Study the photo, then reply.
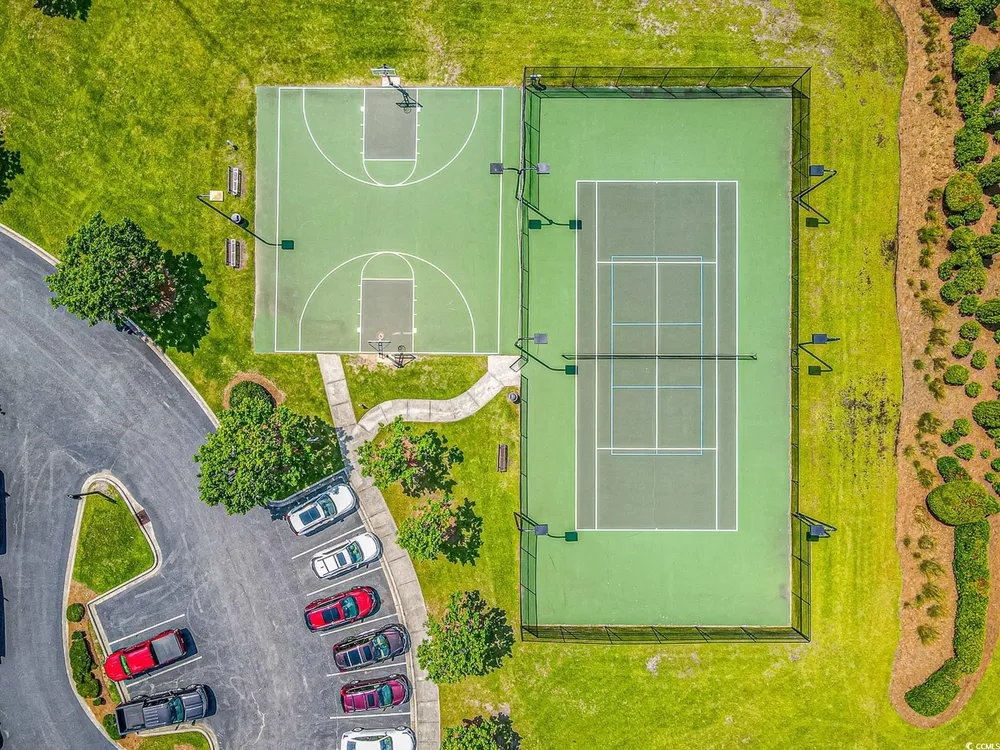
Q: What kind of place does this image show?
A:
sports ground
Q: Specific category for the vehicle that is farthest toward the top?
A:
car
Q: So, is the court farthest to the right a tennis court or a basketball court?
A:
tennis court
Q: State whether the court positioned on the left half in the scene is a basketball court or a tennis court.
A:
basketball court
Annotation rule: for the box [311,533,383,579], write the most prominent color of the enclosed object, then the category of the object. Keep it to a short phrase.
white car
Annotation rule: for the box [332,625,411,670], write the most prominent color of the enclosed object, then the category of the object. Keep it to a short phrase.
gray car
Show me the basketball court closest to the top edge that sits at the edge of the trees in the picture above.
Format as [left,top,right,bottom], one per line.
[253,86,521,354]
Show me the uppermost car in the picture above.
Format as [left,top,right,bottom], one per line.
[285,485,360,536]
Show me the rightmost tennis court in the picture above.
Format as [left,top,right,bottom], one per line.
[520,85,793,628]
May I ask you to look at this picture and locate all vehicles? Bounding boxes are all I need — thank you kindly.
[305,587,380,633]
[113,686,209,735]
[340,676,411,715]
[104,628,190,681]
[285,485,360,536]
[342,726,416,750]
[332,625,411,670]
[311,533,383,579]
